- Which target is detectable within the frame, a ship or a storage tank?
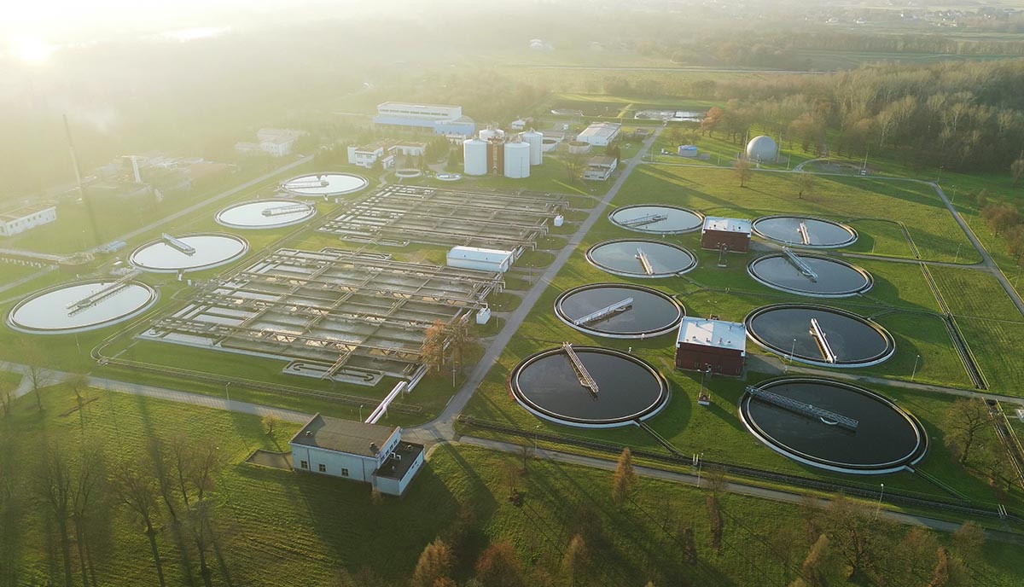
storage tank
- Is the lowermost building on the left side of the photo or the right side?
left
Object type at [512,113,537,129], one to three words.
house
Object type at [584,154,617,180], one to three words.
building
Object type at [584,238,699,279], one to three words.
storage tank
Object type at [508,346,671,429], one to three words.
storage tank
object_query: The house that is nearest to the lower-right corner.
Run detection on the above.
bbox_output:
[675,317,746,378]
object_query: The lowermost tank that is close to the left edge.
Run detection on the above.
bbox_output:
[7,278,162,334]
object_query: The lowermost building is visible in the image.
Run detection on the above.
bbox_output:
[286,409,425,496]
